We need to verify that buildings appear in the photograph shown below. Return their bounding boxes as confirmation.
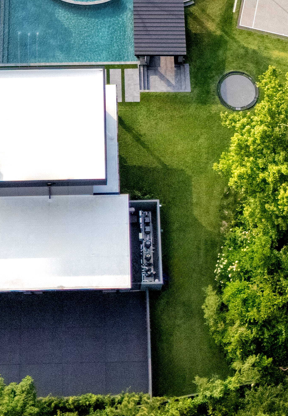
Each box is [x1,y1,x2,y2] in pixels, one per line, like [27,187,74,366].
[133,0,194,93]
[0,67,131,295]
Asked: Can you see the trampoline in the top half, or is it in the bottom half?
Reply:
top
